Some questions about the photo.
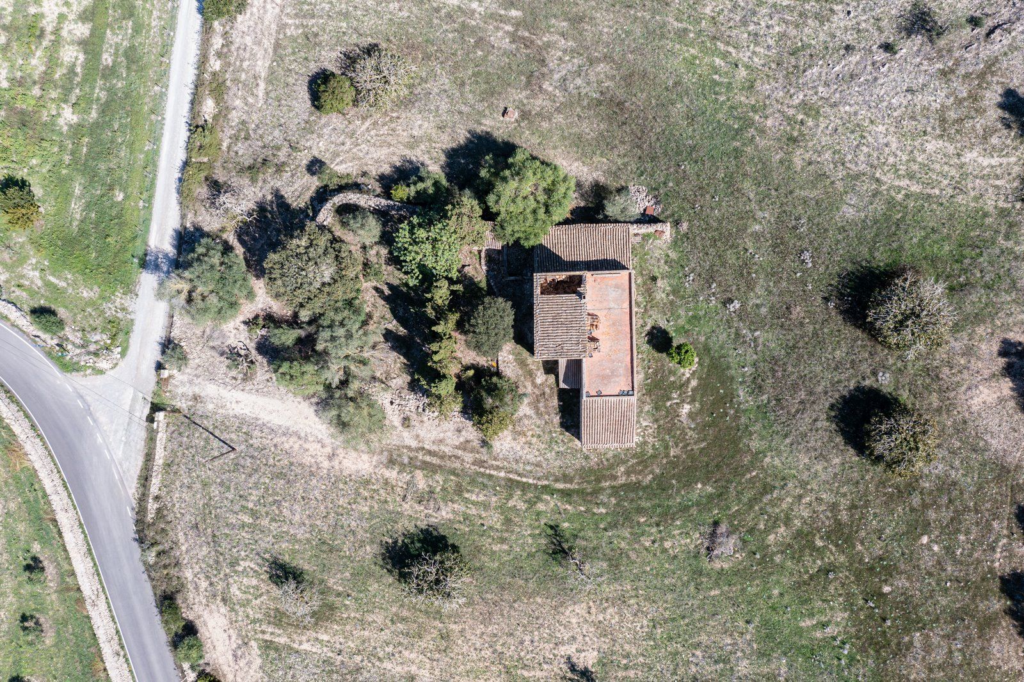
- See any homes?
Yes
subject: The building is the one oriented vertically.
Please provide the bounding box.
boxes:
[532,222,636,448]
